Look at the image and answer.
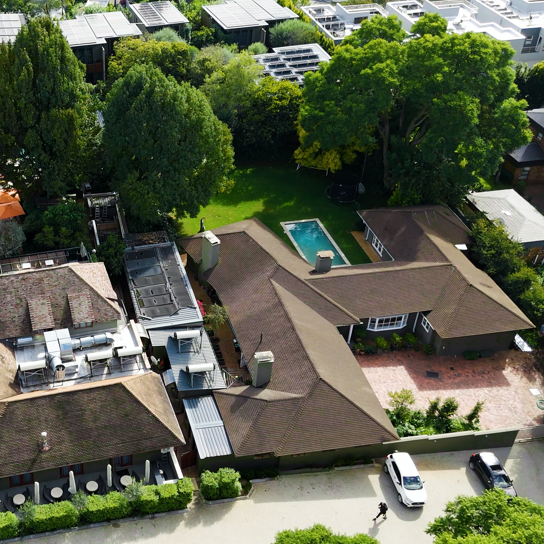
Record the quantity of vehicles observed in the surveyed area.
2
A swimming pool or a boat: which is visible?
swimming pool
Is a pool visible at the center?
Yes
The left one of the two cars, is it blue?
No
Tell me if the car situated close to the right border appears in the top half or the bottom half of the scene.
bottom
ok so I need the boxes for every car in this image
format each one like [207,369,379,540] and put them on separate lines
[469,446,526,504]
[382,445,428,506]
